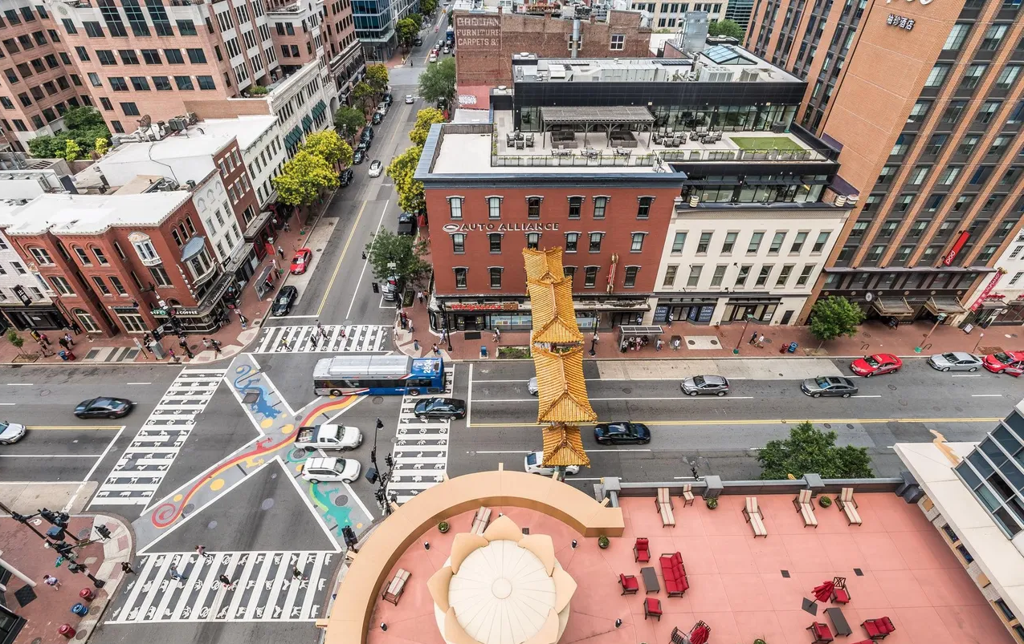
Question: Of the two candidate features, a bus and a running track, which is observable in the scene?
bus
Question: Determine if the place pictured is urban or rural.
urban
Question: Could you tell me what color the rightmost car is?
red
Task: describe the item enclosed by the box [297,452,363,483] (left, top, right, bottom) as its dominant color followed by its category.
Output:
white car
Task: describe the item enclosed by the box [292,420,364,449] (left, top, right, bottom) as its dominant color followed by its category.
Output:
white truck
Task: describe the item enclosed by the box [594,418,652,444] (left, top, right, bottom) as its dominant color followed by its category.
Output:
black car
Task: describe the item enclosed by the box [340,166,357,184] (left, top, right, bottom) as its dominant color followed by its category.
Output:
black car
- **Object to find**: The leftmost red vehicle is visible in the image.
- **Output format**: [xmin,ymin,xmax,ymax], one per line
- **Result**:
[289,248,313,272]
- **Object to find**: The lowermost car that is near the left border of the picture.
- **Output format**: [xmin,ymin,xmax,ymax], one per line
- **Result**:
[0,419,31,446]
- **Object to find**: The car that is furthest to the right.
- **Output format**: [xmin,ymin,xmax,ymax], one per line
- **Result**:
[982,350,1024,371]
